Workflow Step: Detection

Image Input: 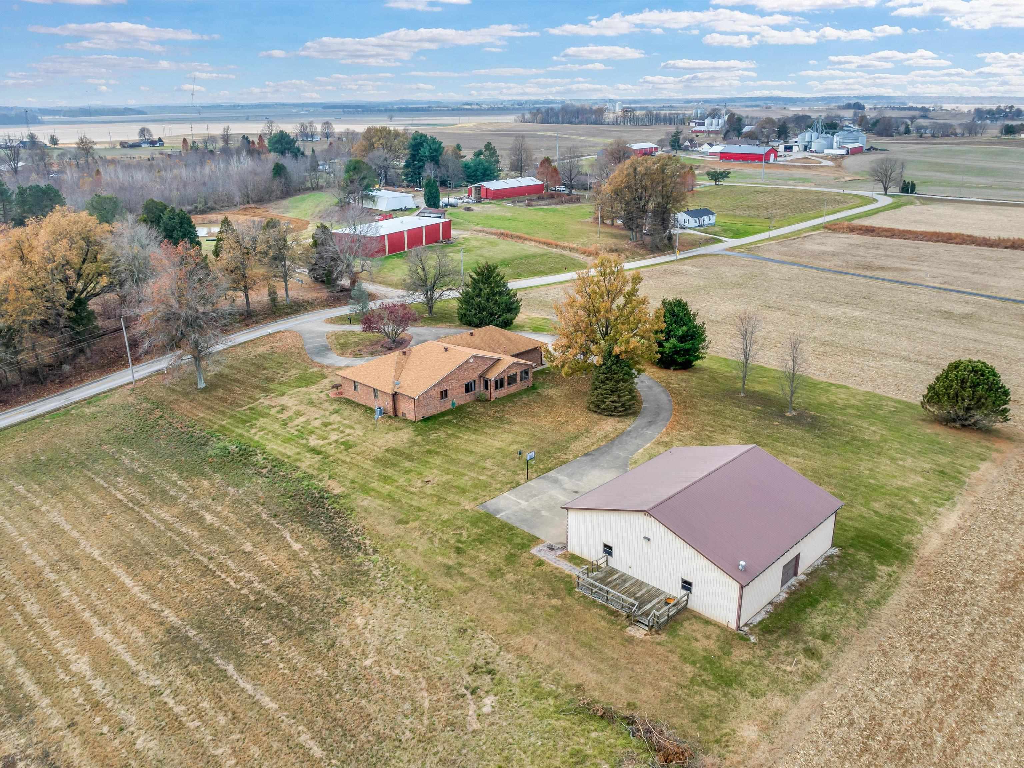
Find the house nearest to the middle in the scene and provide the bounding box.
[334,326,548,421]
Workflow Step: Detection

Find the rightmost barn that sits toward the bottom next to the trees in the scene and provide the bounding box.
[561,446,845,635]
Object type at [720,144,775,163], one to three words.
barn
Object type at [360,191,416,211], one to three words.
shed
